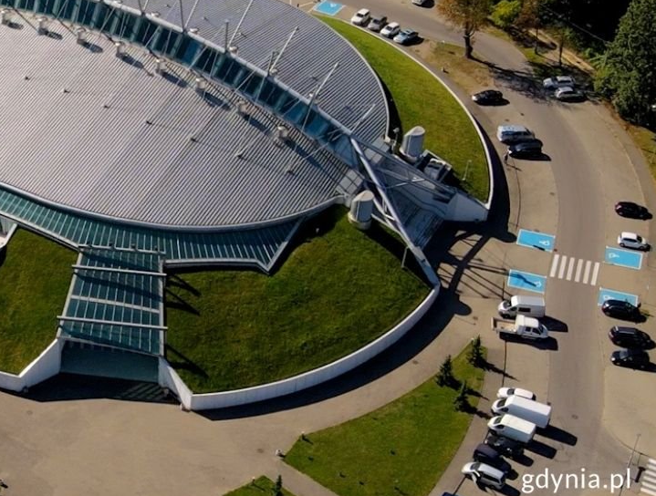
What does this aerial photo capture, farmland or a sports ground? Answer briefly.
sports ground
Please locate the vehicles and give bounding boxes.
[365,15,391,31]
[486,412,539,444]
[409,0,430,5]
[349,5,371,24]
[493,392,552,425]
[498,291,548,316]
[610,351,652,371]
[509,142,544,157]
[611,327,651,348]
[495,314,546,340]
[393,30,421,45]
[472,90,505,104]
[501,125,532,142]
[483,434,528,460]
[378,19,401,37]
[461,461,505,490]
[554,89,588,103]
[617,201,649,220]
[606,298,639,320]
[617,232,651,252]
[471,447,515,477]
[498,385,534,399]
